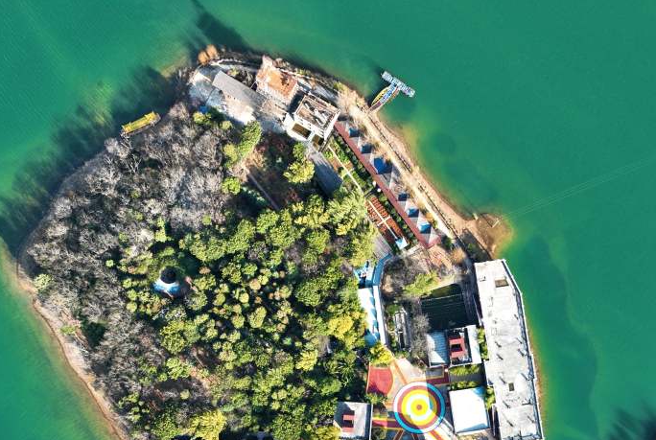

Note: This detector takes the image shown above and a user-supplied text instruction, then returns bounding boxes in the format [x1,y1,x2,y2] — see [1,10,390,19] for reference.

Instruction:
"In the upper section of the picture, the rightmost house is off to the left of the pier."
[285,93,340,154]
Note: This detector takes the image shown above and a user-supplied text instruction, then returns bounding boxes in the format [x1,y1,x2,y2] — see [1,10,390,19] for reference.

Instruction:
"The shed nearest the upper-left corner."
[213,71,267,112]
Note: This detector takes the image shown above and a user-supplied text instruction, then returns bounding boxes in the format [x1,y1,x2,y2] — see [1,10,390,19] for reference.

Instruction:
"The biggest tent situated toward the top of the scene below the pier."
[374,160,399,186]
